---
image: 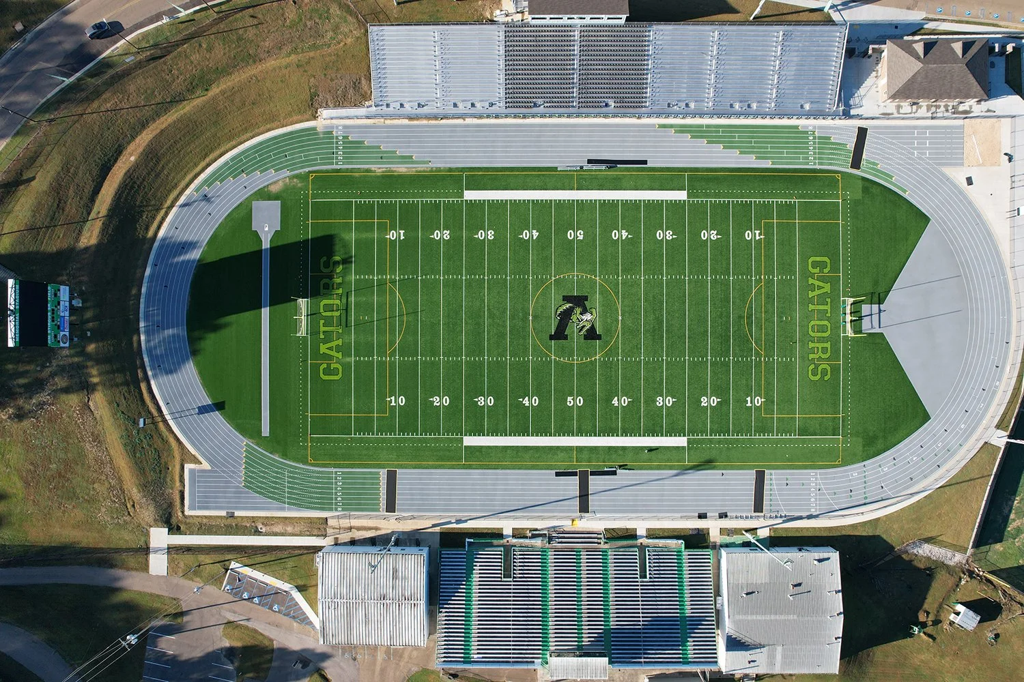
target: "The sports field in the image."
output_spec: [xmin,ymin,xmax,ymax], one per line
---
[190,168,929,468]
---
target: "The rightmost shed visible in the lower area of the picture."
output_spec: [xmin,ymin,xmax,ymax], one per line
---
[944,598,982,631]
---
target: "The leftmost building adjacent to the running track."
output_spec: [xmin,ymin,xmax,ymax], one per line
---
[318,546,429,646]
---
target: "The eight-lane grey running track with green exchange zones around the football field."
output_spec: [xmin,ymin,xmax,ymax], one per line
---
[145,124,1011,512]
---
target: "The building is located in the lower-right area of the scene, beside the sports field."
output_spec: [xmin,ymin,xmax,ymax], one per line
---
[719,547,853,674]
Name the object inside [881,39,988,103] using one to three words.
building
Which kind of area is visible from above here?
sports ground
